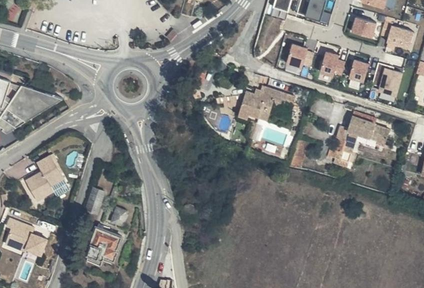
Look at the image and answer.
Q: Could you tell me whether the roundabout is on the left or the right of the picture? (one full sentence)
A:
It is on the left.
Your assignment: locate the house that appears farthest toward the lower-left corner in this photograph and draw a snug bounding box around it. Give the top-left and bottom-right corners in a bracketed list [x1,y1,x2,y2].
[1,218,48,258]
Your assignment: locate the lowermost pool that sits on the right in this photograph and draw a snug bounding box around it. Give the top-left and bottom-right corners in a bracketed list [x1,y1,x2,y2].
[260,127,287,146]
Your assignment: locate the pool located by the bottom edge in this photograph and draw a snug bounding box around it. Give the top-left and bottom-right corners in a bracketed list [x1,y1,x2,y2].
[19,260,34,282]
